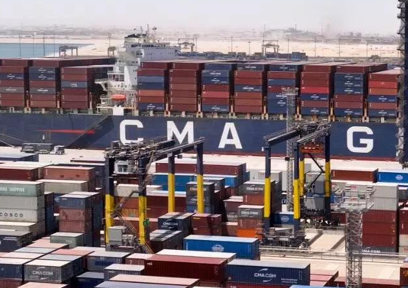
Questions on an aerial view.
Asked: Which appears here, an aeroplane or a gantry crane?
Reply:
gantry crane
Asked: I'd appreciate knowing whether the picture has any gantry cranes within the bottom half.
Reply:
Yes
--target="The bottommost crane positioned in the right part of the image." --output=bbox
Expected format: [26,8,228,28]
[261,120,334,245]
